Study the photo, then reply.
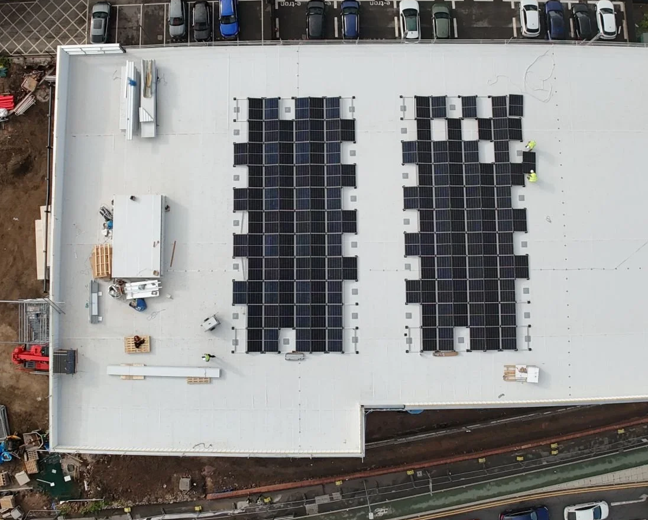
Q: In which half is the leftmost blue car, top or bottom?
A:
top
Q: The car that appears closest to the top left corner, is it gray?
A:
Yes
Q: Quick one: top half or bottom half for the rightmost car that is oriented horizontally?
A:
bottom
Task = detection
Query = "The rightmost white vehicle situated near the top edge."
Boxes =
[595,0,617,39]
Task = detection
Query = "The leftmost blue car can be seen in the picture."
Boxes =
[216,0,240,38]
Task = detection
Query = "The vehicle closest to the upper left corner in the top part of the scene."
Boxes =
[89,1,111,44]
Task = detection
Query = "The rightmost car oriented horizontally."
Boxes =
[563,499,609,520]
